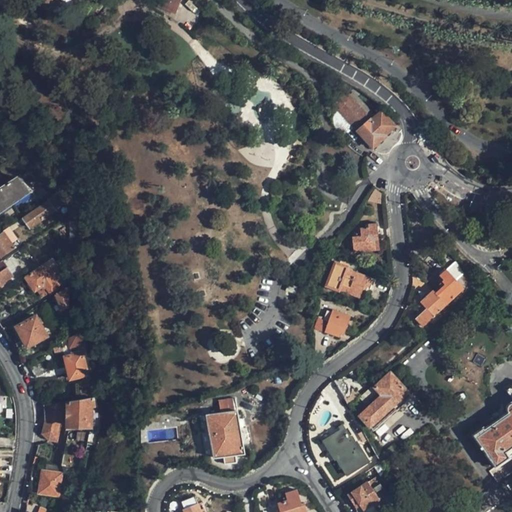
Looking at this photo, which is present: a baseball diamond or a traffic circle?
traffic circle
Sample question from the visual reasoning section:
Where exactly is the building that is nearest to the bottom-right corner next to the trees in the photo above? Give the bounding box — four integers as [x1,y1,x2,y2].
[473,404,512,484]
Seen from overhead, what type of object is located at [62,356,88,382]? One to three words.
house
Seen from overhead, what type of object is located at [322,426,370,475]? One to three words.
building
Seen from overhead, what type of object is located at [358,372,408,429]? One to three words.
house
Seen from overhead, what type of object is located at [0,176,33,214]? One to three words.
building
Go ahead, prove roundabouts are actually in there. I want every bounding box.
[366,139,469,199]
